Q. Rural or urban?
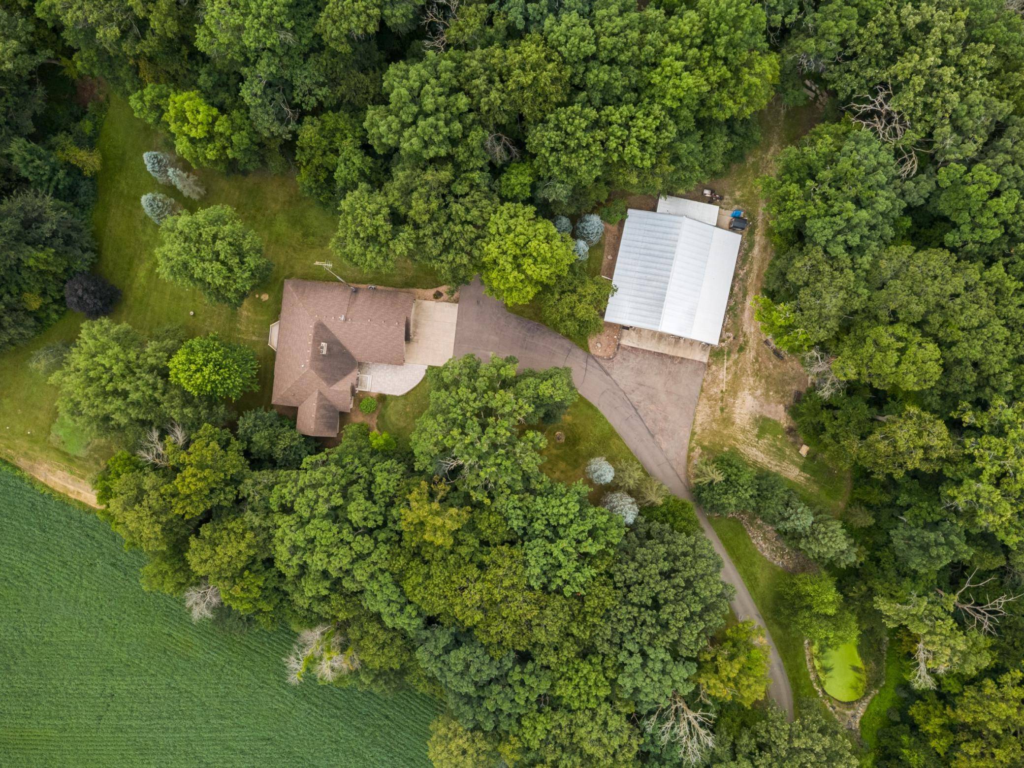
rural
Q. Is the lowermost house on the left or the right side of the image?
left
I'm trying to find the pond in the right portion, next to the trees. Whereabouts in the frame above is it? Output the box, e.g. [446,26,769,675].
[812,619,865,699]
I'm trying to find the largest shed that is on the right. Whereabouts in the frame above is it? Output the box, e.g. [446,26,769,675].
[603,208,742,345]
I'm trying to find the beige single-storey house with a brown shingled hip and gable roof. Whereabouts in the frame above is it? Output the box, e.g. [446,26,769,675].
[271,279,416,437]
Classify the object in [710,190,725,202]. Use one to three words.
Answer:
vehicle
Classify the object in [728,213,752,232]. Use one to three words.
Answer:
vehicle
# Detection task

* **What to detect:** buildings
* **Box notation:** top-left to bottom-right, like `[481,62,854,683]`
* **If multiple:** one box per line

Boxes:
[271,279,416,437]
[603,208,742,345]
